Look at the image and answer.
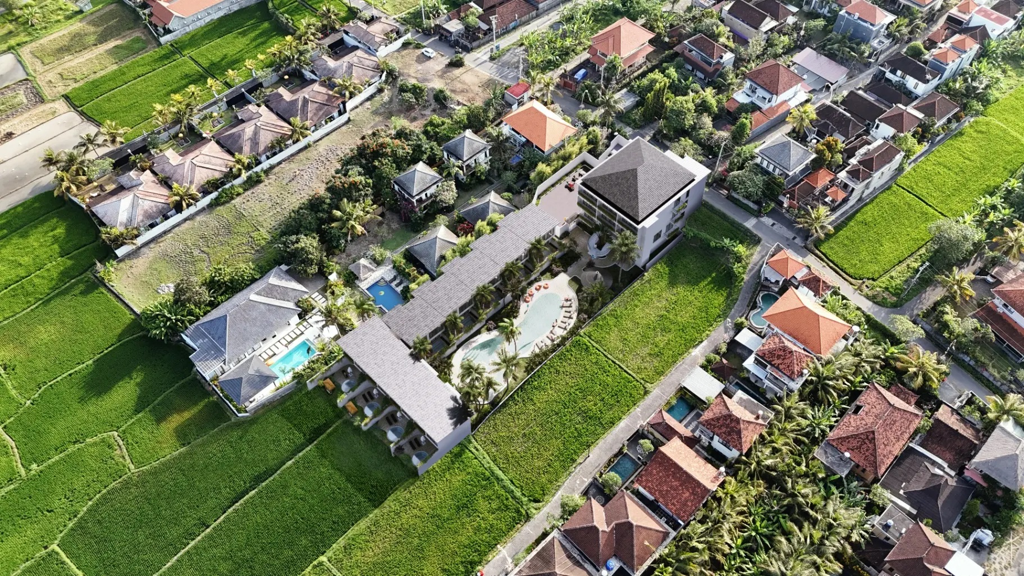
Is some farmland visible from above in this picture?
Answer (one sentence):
Yes, some farmland is visible.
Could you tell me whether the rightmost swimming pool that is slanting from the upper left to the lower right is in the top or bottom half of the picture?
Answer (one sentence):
Seen from above, the rightmost swimming pool that is slanting from the upper left to the lower right lies in the bottom half of the view.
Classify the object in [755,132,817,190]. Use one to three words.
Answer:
house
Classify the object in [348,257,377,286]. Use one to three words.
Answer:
gazebo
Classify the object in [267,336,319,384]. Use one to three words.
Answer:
swimming pool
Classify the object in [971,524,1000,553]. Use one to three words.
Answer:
truck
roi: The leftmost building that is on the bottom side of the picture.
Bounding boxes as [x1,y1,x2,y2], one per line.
[216,353,277,407]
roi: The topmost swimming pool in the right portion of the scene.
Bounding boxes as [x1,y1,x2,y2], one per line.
[749,290,781,331]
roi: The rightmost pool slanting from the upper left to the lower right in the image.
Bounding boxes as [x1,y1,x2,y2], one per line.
[730,378,769,404]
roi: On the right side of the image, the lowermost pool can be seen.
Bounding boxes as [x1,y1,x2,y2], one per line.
[611,450,644,478]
